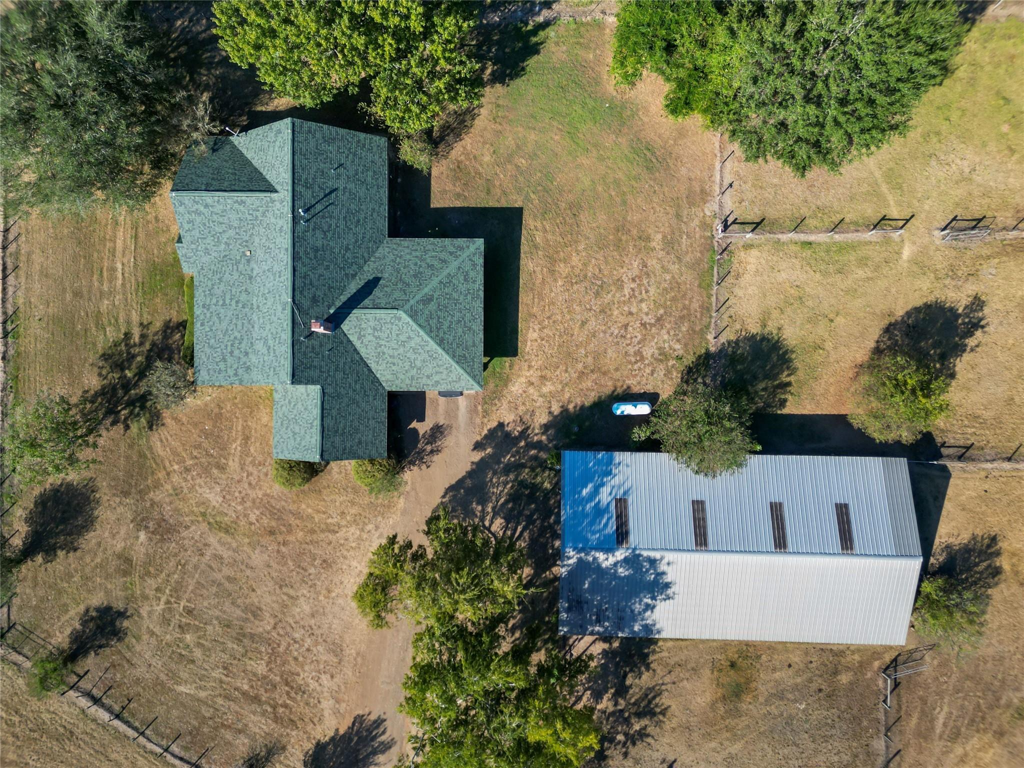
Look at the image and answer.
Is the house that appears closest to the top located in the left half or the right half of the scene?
left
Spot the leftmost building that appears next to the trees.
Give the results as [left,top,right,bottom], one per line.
[171,118,485,462]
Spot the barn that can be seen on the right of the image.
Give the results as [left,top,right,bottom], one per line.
[556,450,924,644]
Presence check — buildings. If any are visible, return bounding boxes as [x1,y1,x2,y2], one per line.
[556,450,924,644]
[171,118,485,462]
